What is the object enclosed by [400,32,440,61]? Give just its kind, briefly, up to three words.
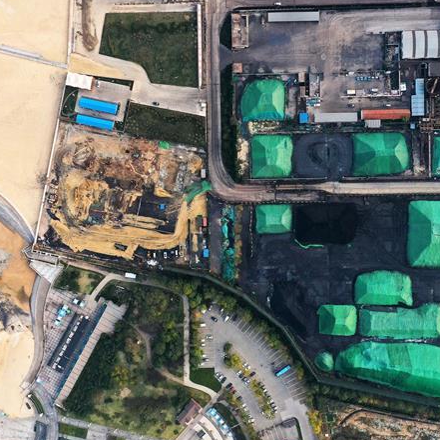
shed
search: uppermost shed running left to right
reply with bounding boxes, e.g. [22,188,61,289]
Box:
[268,11,320,24]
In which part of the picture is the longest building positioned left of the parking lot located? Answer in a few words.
bottom left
